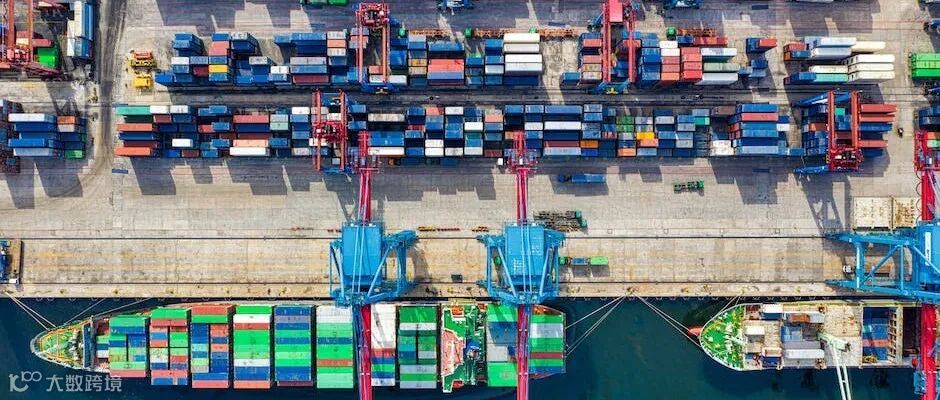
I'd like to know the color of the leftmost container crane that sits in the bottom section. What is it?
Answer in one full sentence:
The color of the leftmost container crane that sits in the bottom section is blue.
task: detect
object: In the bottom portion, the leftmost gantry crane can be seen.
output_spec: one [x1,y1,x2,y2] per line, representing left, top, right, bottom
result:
[324,132,421,400]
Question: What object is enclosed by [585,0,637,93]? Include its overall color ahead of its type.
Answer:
red container crane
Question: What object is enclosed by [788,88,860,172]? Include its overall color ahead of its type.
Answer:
red container crane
